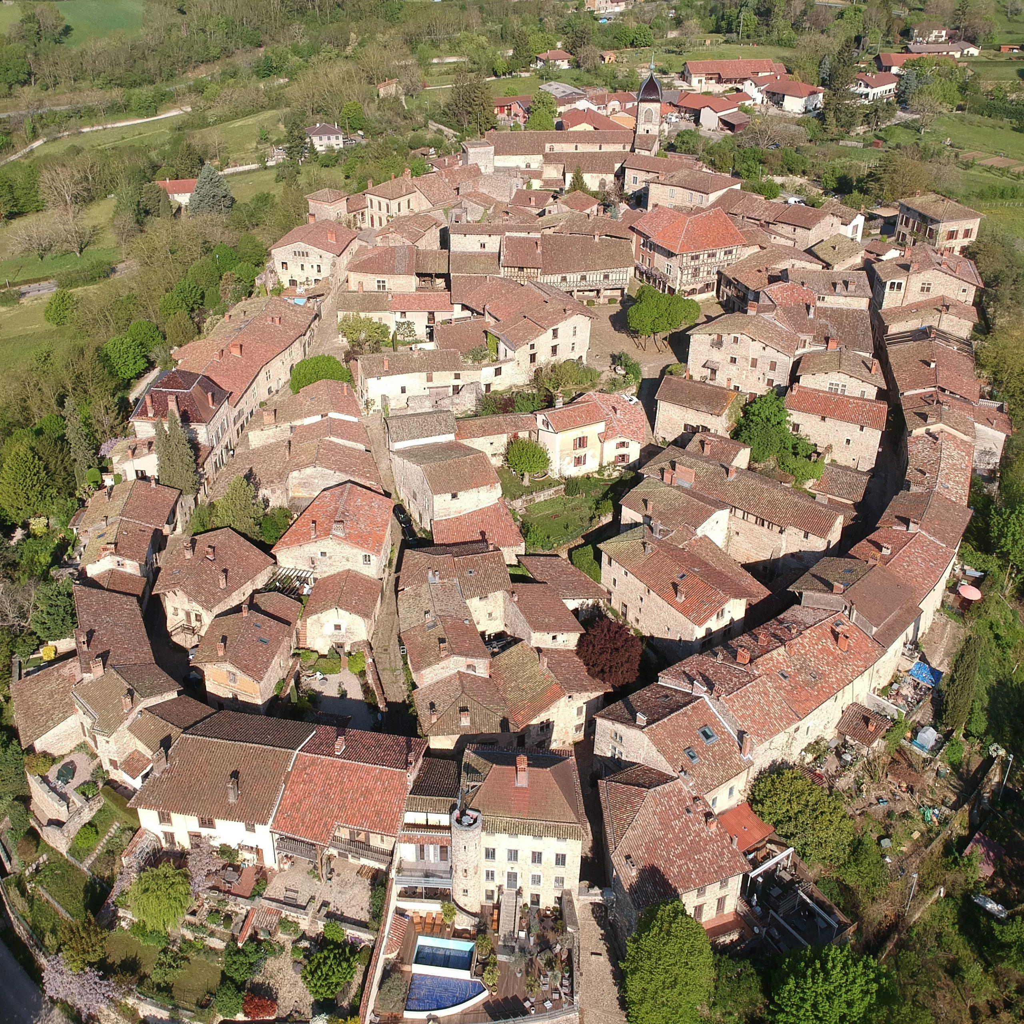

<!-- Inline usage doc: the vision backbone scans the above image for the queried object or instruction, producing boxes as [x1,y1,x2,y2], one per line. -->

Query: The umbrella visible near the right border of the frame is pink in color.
[956,584,984,607]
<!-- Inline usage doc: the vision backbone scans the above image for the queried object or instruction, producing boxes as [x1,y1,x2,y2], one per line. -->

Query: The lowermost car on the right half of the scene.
[617,390,643,402]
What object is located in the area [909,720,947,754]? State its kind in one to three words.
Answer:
greenhouse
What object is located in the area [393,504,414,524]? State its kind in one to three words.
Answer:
car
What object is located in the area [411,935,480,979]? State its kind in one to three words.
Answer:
swimming pool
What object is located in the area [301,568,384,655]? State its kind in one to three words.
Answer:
house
